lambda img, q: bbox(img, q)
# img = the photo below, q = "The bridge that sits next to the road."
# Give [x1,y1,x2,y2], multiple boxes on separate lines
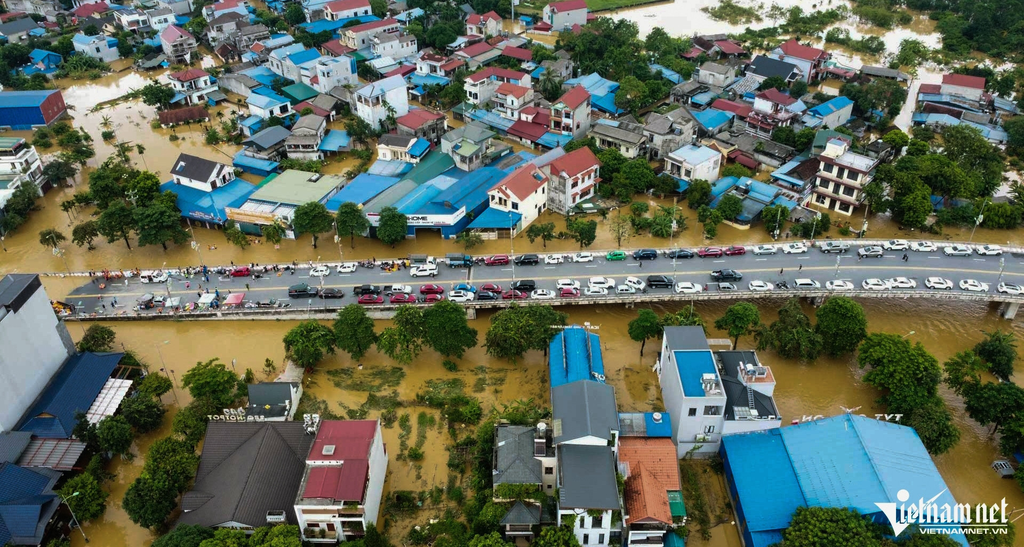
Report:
[50,243,1024,319]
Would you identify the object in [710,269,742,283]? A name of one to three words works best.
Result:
vehicle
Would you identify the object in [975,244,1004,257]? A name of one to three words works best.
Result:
vehicle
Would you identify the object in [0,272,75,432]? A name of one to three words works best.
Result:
building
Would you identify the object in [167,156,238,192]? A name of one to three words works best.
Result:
house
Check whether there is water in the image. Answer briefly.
Yes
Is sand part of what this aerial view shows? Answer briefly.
No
